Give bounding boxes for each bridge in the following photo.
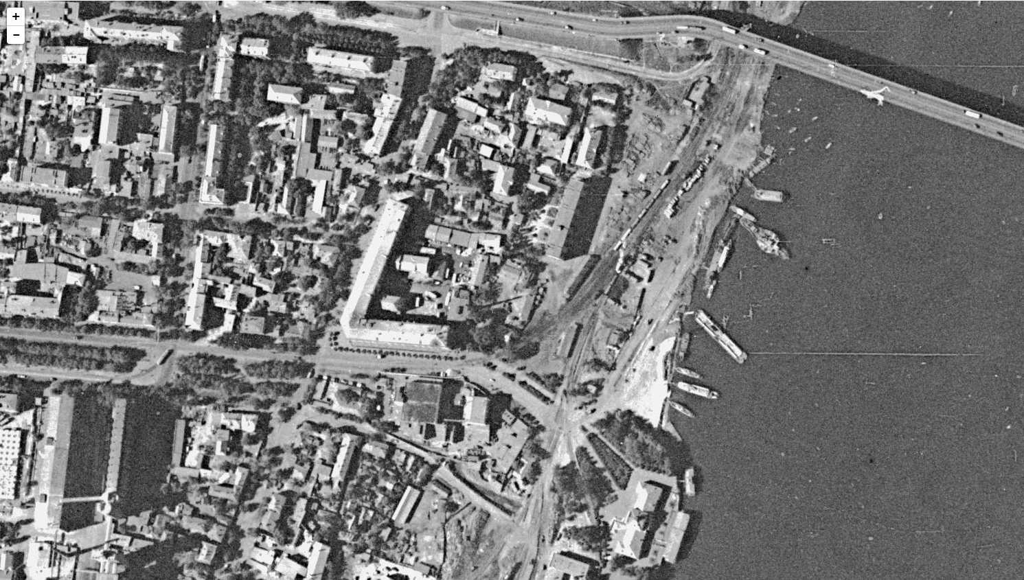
[719,24,1024,149]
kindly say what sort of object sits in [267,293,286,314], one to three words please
house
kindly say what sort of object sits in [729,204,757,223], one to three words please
boat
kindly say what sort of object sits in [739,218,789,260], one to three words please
ship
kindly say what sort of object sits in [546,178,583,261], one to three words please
building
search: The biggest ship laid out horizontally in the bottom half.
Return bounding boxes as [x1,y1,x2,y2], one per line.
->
[677,383,719,399]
